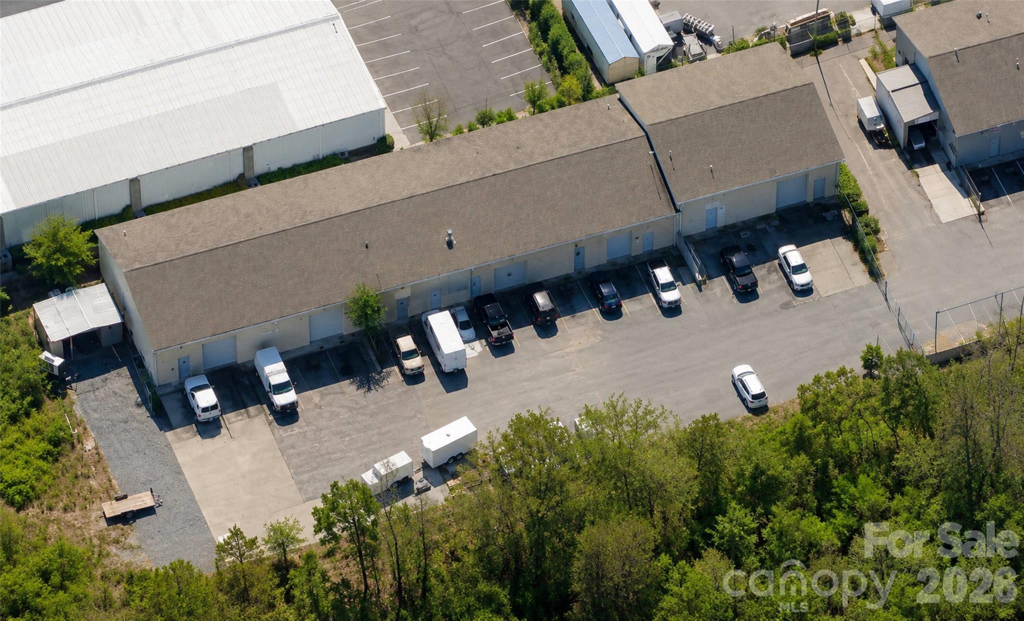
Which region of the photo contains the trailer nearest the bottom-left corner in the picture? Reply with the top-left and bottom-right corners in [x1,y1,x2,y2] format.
[99,486,164,522]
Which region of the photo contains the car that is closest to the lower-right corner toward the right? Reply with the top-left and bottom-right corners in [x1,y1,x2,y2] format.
[731,367,770,412]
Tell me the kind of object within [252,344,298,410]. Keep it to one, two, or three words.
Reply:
van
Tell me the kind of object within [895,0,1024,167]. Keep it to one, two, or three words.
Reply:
building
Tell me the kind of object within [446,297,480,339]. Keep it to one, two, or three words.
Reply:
car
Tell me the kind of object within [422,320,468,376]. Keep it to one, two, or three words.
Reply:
truck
